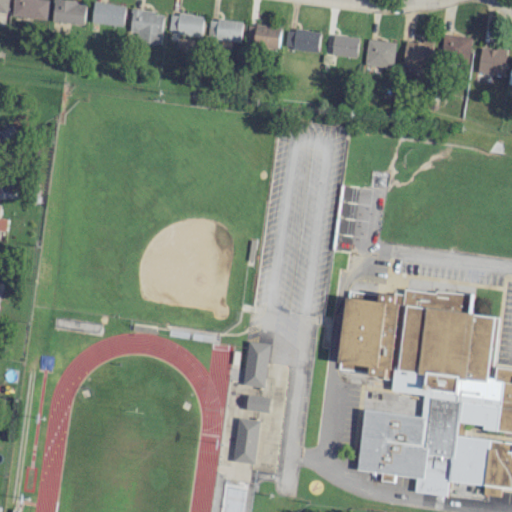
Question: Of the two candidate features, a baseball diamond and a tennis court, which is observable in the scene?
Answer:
baseball diamond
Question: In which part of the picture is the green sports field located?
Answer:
bottom left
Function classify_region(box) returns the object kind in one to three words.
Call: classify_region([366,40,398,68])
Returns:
house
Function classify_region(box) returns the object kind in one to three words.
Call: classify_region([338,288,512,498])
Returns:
building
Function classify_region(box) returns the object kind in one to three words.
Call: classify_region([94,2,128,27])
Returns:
house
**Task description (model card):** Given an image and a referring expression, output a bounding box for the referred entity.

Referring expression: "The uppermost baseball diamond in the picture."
[139,218,234,320]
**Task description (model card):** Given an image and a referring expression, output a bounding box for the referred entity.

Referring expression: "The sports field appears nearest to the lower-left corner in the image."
[58,356,201,512]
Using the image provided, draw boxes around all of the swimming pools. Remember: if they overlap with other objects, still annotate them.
[5,369,18,383]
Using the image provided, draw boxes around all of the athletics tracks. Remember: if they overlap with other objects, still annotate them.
[36,334,233,512]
